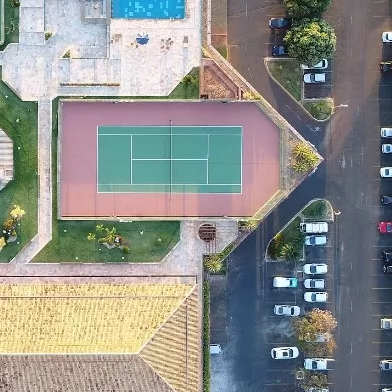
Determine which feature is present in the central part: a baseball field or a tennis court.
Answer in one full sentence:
The feature located in the central part is a tennis court.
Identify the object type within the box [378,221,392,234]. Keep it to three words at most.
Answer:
vehicle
